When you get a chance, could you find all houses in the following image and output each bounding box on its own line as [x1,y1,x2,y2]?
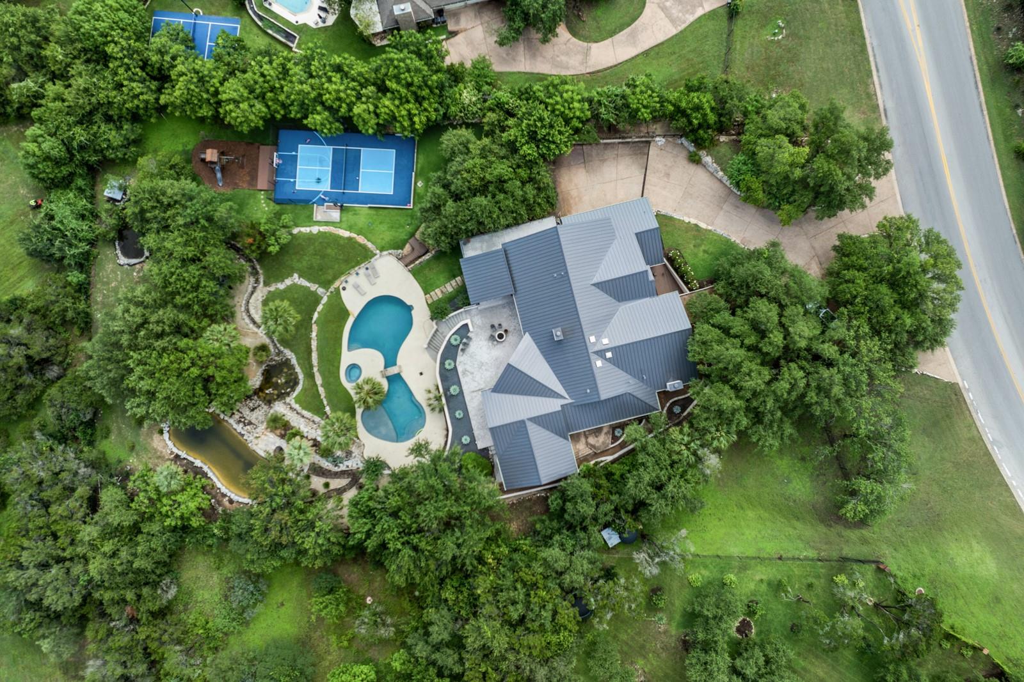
[350,0,507,44]
[460,196,699,491]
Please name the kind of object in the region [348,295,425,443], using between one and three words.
swimming pool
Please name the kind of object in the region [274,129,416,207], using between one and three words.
sports court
